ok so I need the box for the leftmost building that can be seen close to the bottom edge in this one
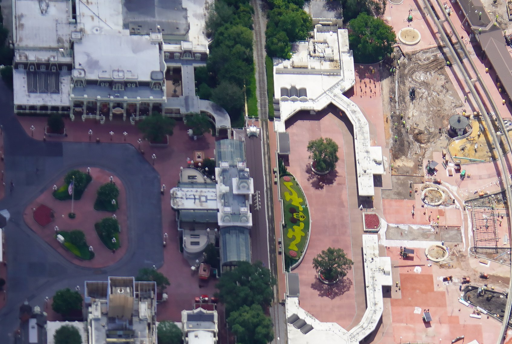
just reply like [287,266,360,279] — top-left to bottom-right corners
[20,298,47,344]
